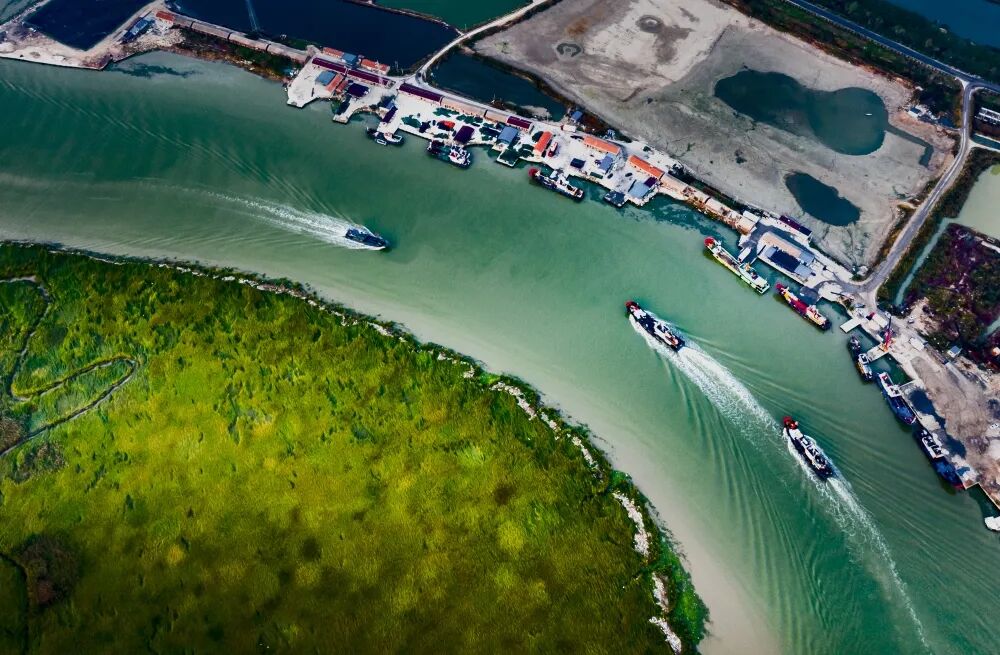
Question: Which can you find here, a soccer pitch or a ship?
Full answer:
I can see a ship in this picture.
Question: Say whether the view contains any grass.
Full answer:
Yes, grass can be seen from above here.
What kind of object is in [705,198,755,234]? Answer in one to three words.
house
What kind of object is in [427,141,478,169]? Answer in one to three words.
boat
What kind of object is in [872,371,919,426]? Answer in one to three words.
vessel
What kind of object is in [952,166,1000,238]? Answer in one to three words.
pond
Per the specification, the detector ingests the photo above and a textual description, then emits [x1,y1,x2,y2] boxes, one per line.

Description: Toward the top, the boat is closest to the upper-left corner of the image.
[365,124,406,147]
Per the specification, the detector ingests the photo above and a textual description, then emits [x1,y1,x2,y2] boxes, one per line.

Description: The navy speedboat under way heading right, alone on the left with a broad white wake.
[343,227,390,248]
